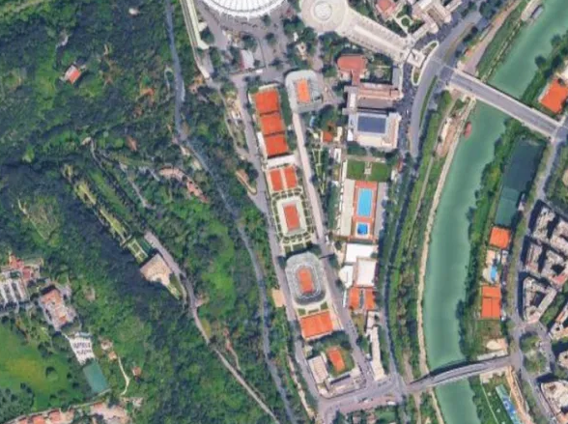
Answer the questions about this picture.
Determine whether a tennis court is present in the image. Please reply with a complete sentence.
Yes, you can see a tennis court in this photo.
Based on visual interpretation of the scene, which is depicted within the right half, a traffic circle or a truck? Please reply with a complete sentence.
There is a traffic circle within the right half.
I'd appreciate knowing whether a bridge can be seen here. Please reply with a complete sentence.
Yes, a bridge can be made out from above.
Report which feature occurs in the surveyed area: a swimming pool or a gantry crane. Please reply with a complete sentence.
I can see a swimming pool in this picture.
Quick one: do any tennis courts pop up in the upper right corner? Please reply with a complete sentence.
Yes, a tennis court is visible in the upper right corner.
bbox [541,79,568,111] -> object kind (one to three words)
tennis court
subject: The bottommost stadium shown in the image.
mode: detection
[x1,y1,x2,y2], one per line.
[286,253,327,305]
